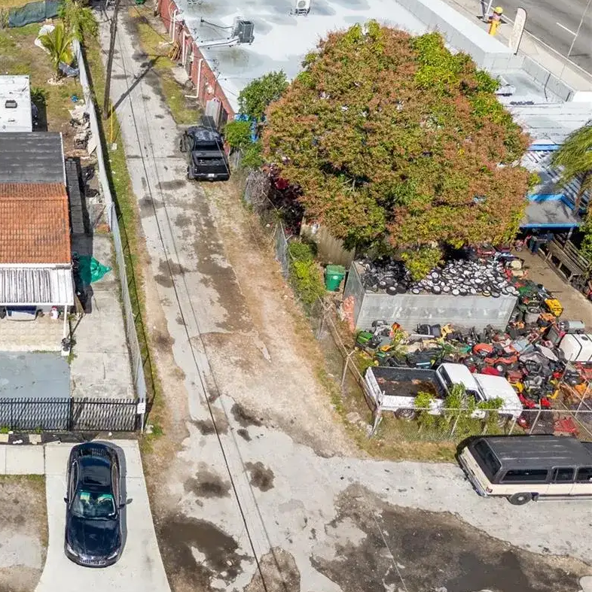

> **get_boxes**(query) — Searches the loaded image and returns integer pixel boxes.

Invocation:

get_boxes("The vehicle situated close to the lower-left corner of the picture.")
[64,451,129,568]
